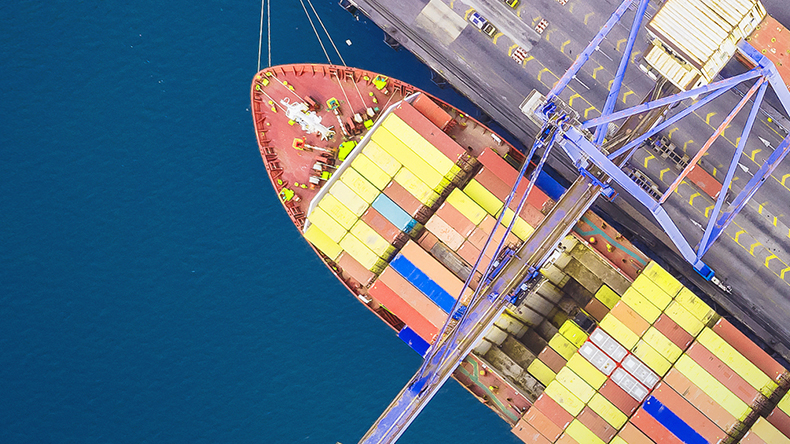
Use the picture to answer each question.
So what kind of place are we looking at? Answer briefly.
port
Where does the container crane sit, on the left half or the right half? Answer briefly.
right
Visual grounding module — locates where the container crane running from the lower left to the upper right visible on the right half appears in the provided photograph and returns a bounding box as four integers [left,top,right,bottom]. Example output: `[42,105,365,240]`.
[355,0,790,444]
